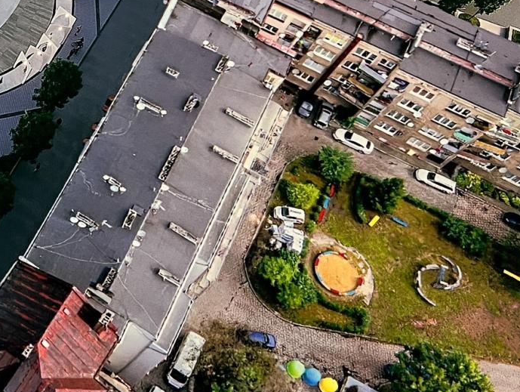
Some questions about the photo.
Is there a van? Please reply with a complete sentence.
Yes, looking at the shot, I can spot a van.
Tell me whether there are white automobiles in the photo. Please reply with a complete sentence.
Yes, the photo shows a white automobile.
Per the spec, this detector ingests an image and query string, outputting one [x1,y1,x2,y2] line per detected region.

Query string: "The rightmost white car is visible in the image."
[413,168,456,197]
